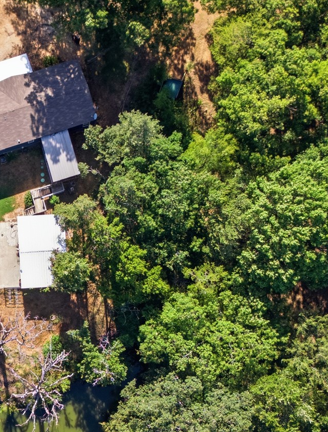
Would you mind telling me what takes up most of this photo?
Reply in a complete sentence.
The bulk of the photo consists of trees.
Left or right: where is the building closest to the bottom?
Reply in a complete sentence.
The building closest to the bottom is on the left side of the image.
